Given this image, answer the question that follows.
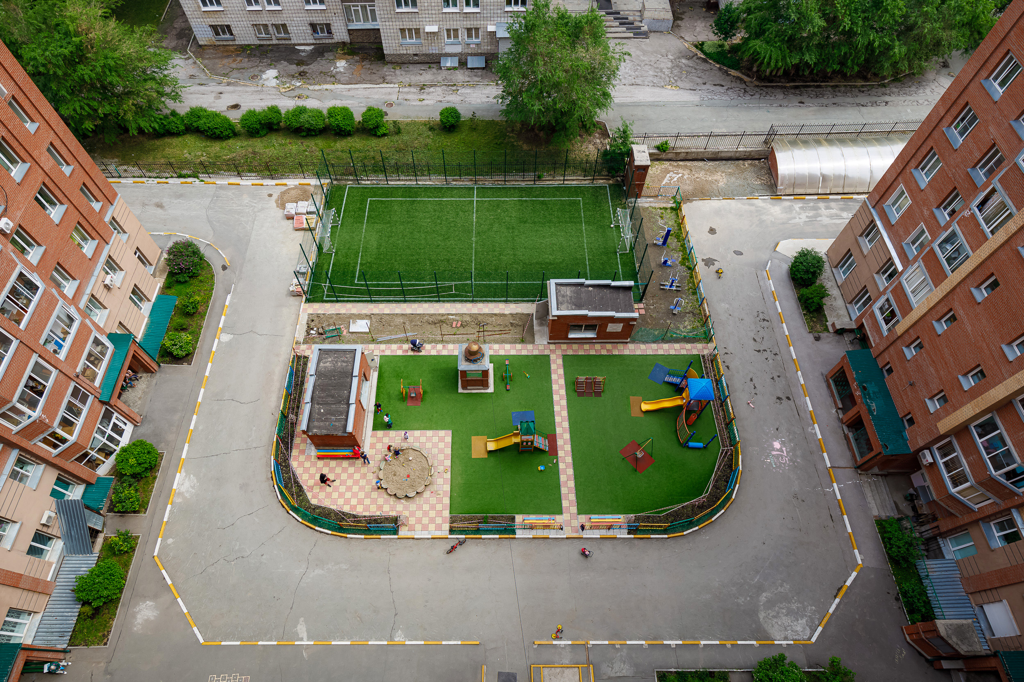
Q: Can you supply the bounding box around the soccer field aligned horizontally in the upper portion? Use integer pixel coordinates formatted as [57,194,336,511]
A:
[307,183,652,301]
